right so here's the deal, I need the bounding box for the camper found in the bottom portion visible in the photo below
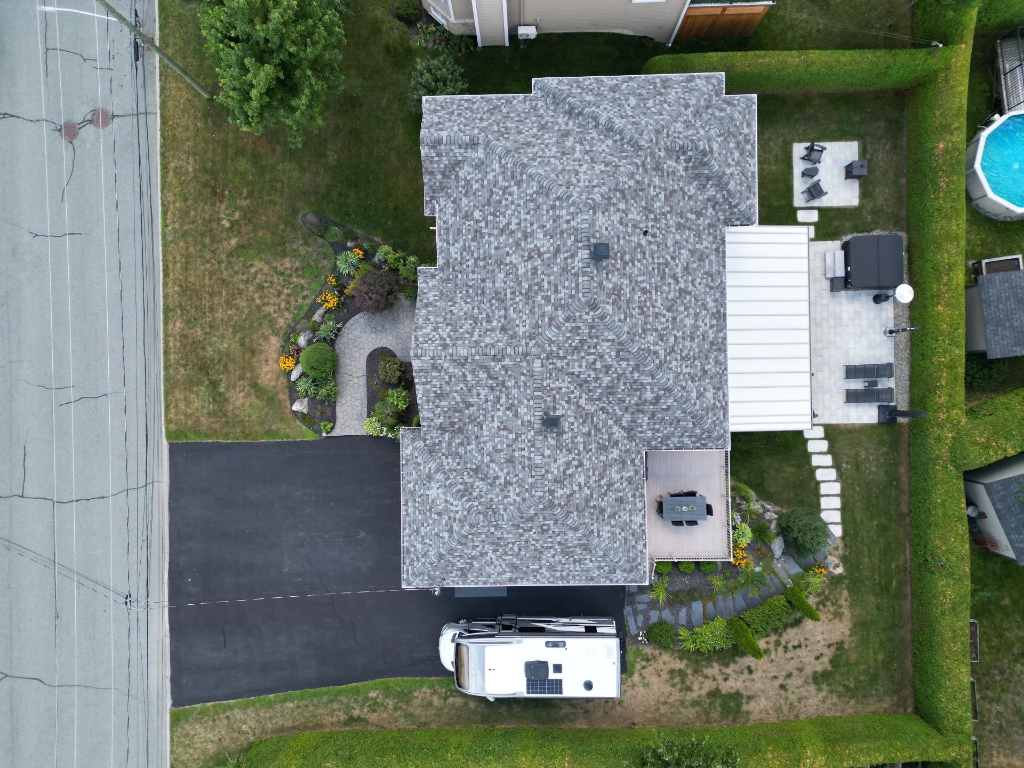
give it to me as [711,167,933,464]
[439,610,621,702]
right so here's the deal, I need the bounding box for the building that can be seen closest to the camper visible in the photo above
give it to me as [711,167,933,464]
[401,74,758,601]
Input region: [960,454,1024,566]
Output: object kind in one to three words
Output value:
shed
